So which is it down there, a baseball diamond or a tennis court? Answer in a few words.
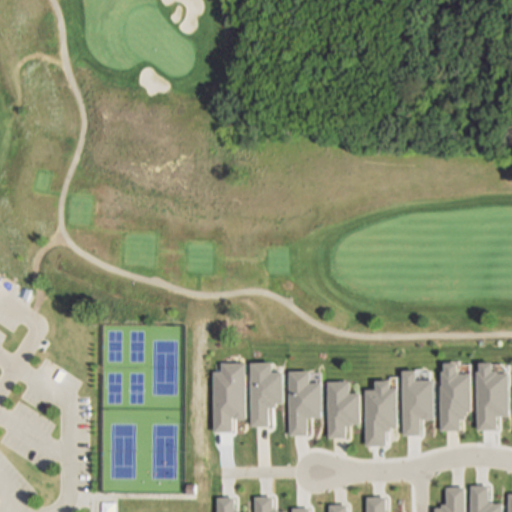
tennis court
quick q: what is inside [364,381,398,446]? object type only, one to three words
house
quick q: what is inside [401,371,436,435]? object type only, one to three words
house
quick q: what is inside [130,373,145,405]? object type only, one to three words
sports court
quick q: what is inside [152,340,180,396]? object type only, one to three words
tennis court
